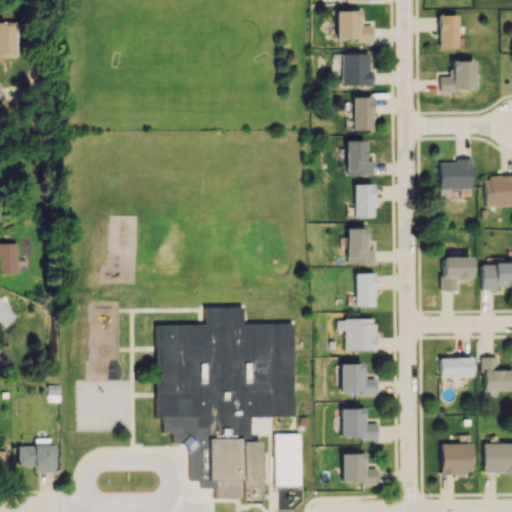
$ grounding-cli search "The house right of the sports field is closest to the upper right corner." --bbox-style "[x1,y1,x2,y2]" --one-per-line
[440,15,462,49]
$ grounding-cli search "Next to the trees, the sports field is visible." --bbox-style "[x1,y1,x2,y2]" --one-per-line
[80,0,300,127]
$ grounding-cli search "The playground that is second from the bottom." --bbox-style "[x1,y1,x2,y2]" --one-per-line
[86,301,121,380]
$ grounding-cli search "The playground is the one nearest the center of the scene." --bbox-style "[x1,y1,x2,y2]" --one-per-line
[101,216,138,284]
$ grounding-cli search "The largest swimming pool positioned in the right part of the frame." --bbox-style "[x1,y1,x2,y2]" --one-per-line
[442,388,456,403]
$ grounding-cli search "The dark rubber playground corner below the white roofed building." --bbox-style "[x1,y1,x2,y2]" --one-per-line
[279,488,304,510]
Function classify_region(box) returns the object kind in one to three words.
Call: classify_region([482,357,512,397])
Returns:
house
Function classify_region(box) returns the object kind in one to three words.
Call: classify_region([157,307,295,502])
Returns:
building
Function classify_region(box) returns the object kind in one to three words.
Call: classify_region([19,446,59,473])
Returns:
house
